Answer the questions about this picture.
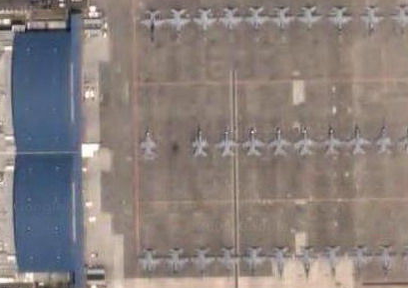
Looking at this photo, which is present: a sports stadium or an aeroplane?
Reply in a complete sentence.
Looking from above, you can make out an aeroplane.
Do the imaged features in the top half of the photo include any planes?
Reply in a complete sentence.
Yes, I can see a plane in the top half of the photo.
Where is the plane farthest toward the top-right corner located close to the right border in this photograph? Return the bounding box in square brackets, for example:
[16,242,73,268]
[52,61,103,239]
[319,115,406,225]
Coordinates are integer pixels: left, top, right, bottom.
[391,6,408,38]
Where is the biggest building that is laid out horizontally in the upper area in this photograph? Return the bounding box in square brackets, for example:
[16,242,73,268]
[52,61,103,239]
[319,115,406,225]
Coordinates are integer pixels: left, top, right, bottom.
[25,14,69,29]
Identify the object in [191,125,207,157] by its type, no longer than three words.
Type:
airplane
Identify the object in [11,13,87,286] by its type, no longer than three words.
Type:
hangar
